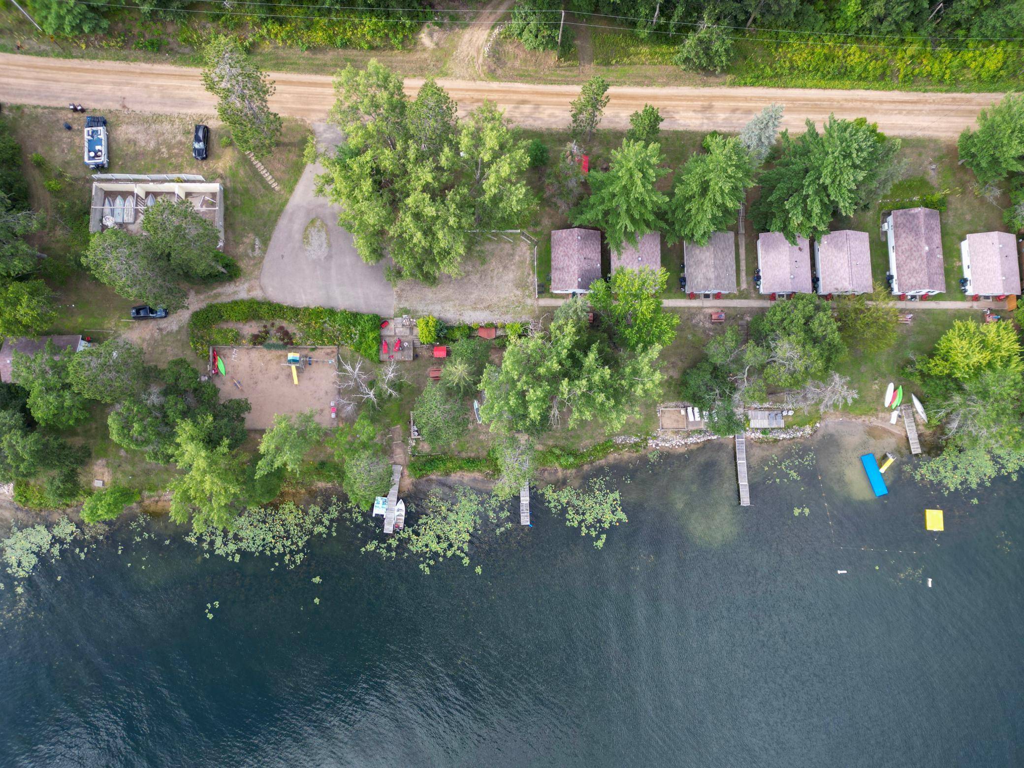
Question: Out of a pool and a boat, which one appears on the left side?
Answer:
boat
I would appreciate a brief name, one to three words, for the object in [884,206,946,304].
house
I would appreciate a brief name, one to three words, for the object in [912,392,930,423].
boat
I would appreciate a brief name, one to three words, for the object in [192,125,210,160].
car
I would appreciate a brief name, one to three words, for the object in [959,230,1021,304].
house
